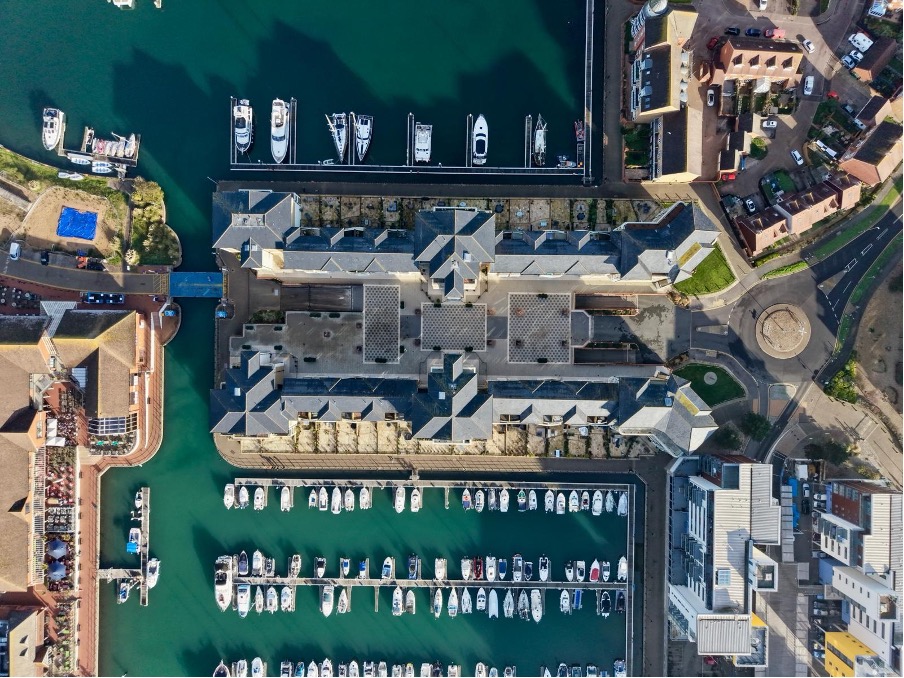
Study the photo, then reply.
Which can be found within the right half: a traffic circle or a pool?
traffic circle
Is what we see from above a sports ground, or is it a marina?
marina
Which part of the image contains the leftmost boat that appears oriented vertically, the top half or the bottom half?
top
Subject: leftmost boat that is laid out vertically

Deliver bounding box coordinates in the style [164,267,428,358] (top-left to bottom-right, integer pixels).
[41,104,64,150]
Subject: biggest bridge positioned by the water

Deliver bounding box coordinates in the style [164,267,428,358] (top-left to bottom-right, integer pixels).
[168,272,225,297]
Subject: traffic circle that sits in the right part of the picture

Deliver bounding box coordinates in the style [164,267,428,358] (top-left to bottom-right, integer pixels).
[755,303,811,358]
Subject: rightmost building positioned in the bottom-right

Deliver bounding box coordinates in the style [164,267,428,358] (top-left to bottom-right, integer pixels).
[817,477,904,678]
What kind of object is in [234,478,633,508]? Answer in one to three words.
pier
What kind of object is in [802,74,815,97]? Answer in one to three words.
vehicle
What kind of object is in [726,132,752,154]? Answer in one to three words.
house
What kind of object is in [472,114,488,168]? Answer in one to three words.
boat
